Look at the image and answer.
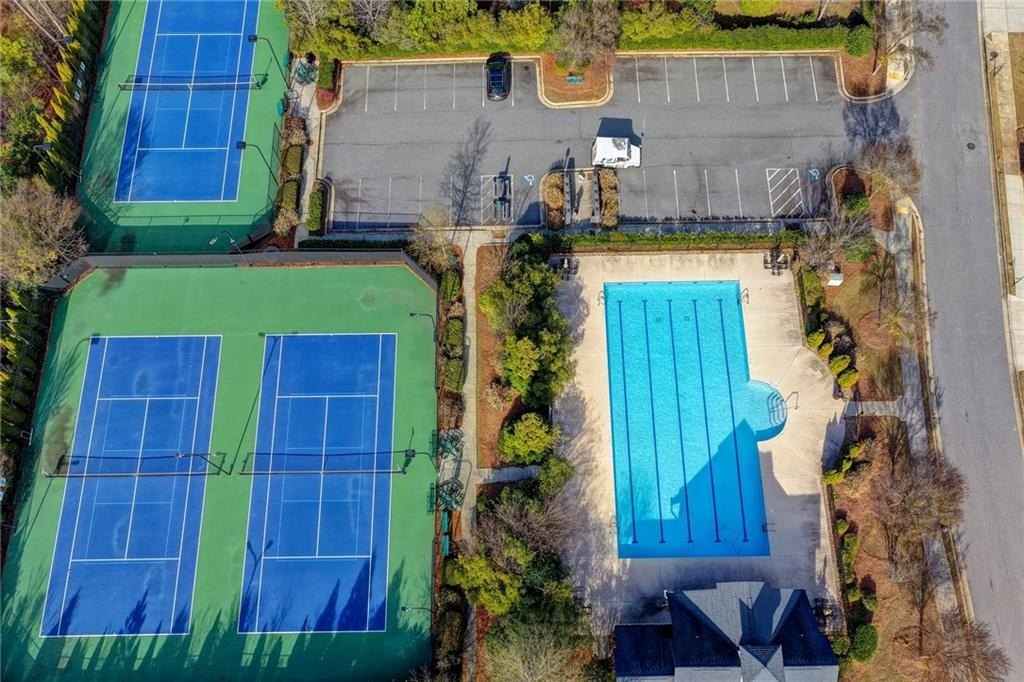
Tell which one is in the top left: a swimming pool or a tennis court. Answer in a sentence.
Visible in the top left is a tennis court.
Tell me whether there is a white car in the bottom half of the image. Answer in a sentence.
No, I see no white car in the bottom half of the image.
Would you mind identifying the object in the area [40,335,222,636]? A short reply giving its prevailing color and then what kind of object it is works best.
blue tennis court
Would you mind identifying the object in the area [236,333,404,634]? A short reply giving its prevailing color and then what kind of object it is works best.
blue tennis court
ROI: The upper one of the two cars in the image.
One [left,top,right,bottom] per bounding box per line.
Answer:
[486,53,511,99]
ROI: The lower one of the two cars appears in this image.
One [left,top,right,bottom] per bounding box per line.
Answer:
[592,140,641,168]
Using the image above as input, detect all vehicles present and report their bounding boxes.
[592,140,641,168]
[486,53,511,99]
